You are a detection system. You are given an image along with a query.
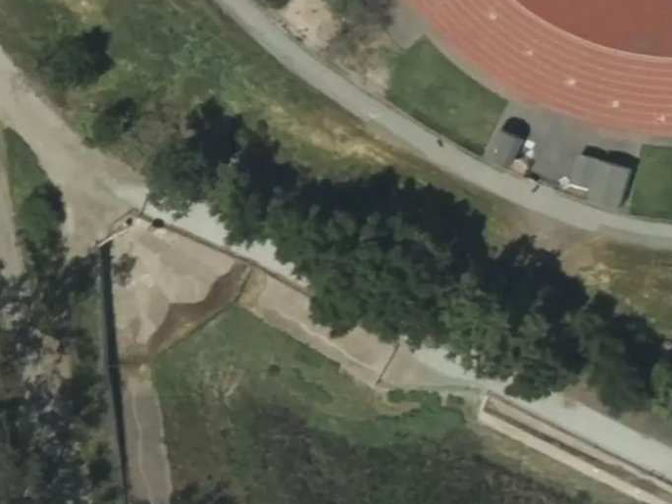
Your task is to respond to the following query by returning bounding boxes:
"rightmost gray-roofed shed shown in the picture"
[597,160,638,207]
